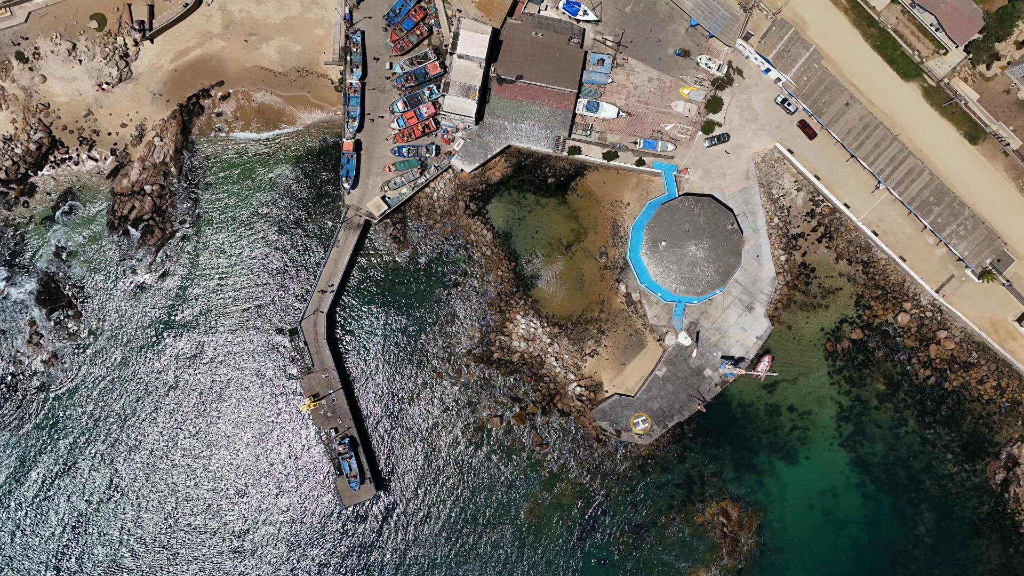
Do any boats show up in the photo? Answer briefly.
Yes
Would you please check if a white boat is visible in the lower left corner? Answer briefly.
No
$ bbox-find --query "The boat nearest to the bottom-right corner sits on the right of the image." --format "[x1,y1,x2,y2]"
[752,354,772,381]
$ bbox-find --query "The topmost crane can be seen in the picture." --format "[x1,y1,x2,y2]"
[715,360,778,378]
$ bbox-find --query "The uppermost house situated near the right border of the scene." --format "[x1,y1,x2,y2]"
[904,0,986,48]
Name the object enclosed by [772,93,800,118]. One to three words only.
car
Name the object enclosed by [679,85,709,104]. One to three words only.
boat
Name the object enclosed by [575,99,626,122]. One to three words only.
boat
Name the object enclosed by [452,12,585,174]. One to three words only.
building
